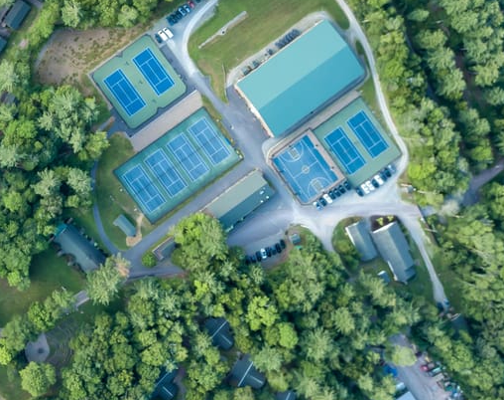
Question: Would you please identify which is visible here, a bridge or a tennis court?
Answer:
tennis court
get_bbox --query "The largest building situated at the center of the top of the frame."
[233,20,364,136]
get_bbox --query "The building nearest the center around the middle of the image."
[205,169,275,231]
